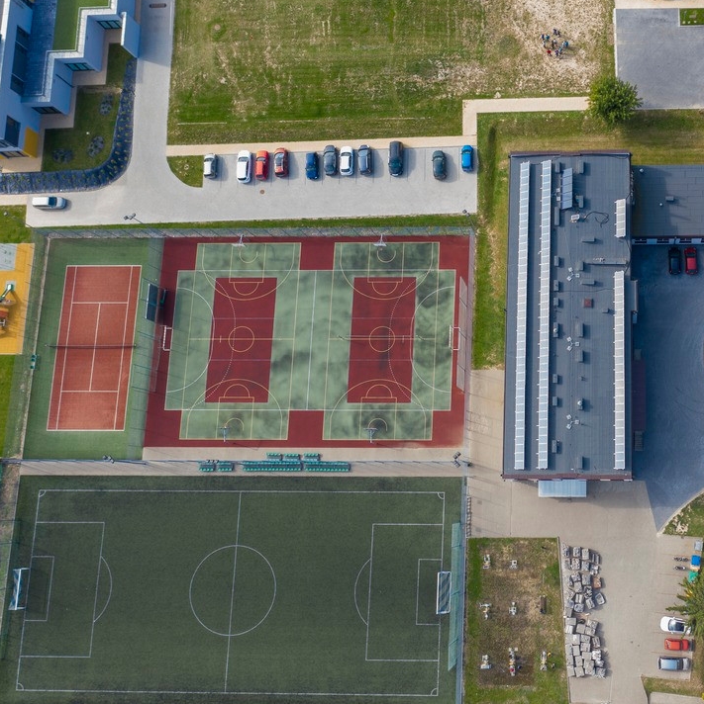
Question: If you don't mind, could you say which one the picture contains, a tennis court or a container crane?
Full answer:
It is a tennis court that can be seen here.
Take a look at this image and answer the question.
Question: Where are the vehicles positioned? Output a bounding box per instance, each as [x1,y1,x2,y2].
[668,247,681,275]
[389,140,404,176]
[304,153,319,179]
[28,194,67,210]
[656,655,690,673]
[357,146,372,175]
[235,152,252,182]
[683,247,697,275]
[273,150,289,176]
[662,638,689,653]
[431,152,447,180]
[658,616,692,633]
[203,153,219,180]
[321,146,338,176]
[459,147,473,172]
[254,153,270,179]
[339,147,354,176]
